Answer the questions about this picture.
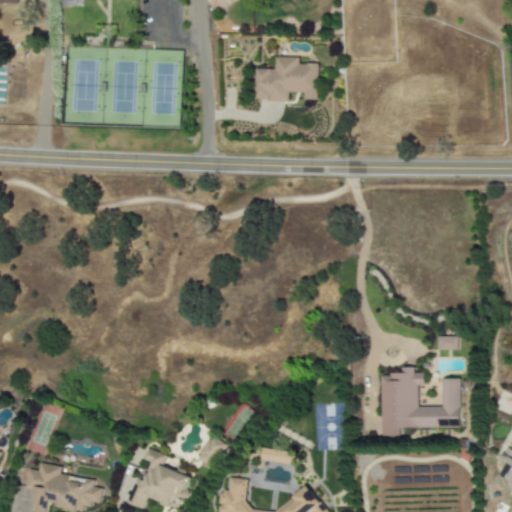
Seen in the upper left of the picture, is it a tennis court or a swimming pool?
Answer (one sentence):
You can see a tennis court in the upper left of the picture.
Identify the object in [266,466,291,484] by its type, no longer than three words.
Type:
swimming pool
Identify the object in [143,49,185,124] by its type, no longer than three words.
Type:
tennis court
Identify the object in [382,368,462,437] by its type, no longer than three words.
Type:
house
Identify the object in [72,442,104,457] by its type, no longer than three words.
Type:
swimming pool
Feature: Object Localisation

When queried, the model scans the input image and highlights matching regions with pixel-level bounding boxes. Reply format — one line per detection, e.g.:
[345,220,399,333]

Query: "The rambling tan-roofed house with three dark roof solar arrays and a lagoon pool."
[16,461,106,512]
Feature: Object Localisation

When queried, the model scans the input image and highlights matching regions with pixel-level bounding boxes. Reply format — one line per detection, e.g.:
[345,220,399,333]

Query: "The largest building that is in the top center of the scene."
[256,56,319,101]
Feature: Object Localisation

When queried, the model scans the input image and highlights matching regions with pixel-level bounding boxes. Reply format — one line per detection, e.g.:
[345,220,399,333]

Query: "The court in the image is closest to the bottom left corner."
[26,404,64,455]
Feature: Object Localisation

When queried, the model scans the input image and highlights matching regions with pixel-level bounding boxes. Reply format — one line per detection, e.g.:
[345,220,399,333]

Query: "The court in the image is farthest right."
[316,404,344,450]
